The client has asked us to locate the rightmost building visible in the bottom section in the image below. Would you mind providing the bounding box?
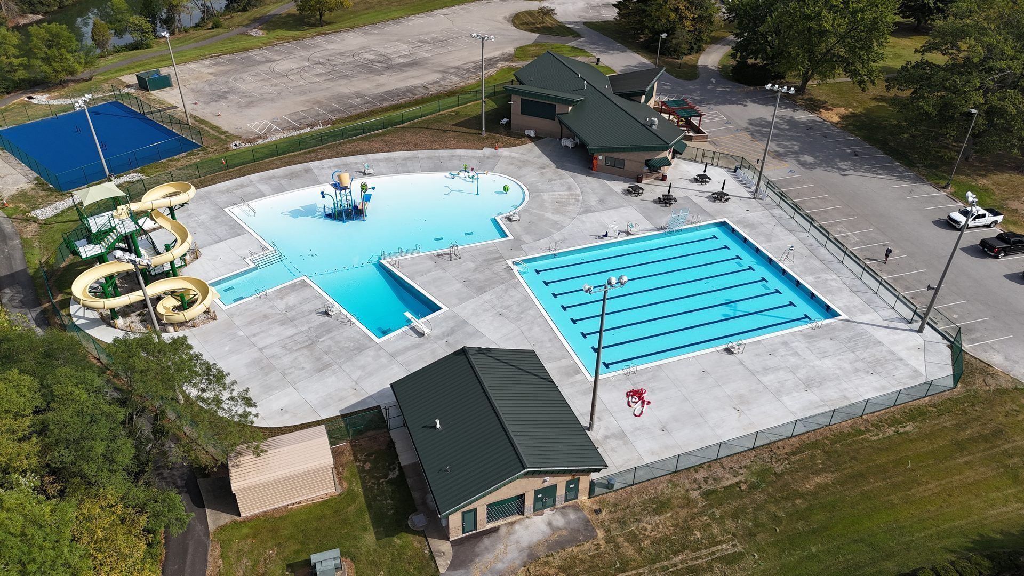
[390,346,608,542]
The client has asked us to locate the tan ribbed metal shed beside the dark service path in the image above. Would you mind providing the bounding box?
[226,424,342,521]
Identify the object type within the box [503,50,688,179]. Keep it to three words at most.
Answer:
building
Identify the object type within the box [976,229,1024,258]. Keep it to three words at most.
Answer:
truck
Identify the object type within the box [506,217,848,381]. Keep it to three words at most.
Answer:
swimming pool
